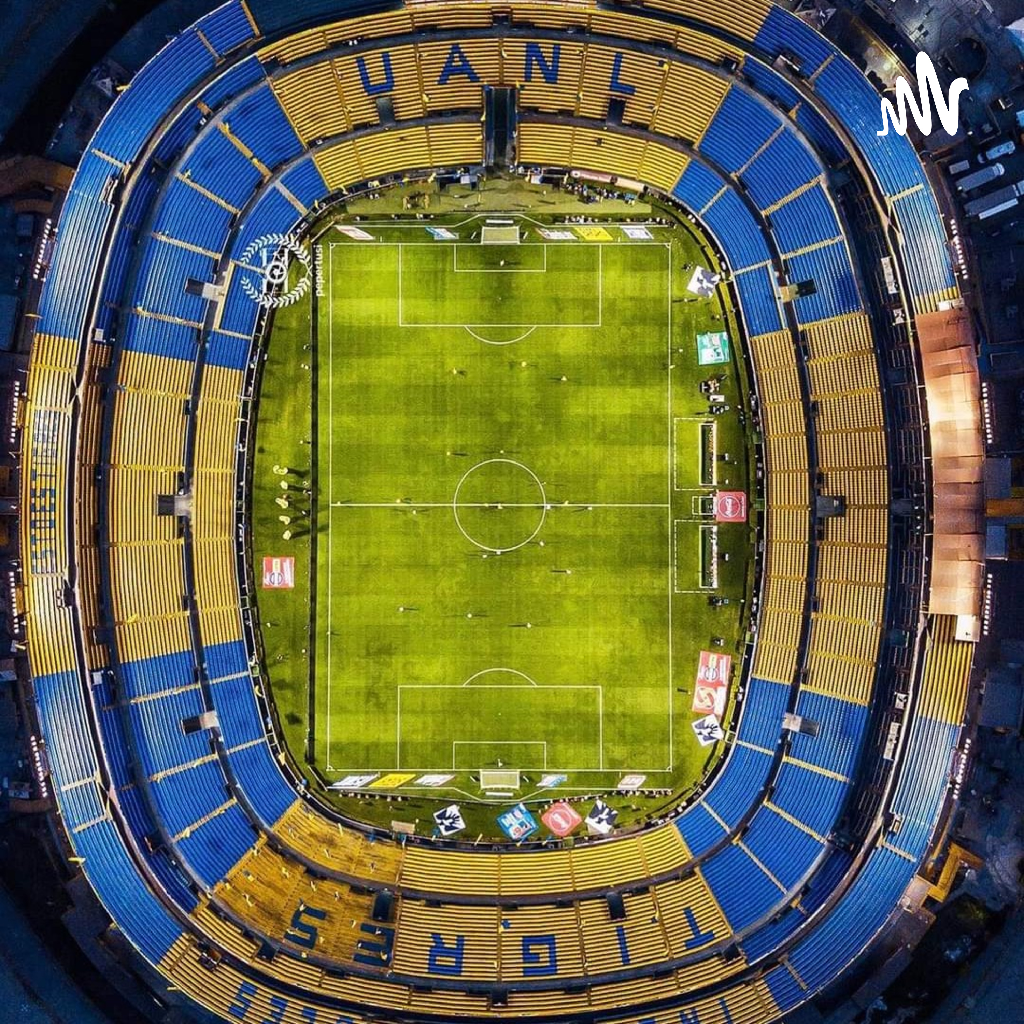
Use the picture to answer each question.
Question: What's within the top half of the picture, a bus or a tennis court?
bus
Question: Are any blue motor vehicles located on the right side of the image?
Yes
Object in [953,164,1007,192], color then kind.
blue truck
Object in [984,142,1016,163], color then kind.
blue vehicle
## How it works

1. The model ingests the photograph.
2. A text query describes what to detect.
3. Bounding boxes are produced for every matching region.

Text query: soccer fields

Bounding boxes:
[245,173,756,843]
